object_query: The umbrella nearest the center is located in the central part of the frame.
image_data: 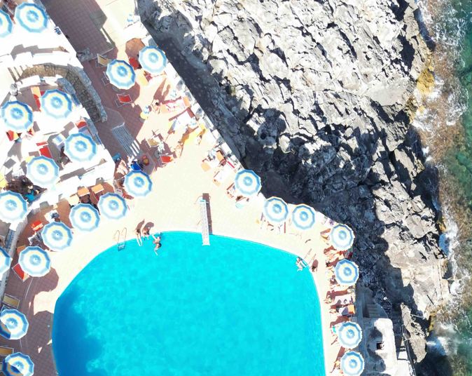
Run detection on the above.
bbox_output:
[233,170,258,198]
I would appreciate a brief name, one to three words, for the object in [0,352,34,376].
umbrella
